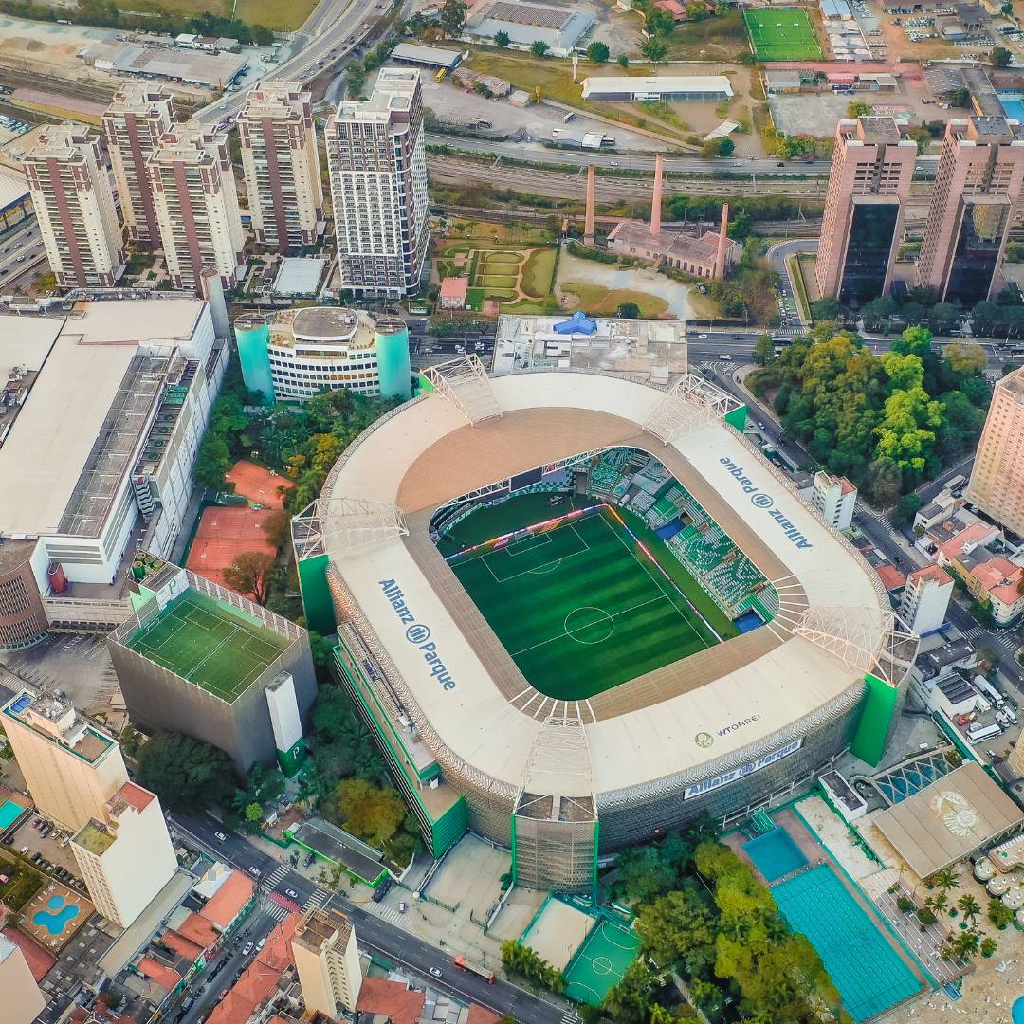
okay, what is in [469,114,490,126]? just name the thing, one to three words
vehicle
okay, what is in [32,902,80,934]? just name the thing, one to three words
swimming pool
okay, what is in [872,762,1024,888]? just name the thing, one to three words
building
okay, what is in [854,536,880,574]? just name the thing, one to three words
house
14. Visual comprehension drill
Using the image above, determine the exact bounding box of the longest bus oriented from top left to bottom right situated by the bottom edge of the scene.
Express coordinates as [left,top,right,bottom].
[448,945,501,985]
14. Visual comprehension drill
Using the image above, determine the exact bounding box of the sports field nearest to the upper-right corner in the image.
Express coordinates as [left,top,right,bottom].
[744,7,823,61]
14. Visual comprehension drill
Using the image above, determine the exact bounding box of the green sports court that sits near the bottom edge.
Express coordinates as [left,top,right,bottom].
[565,918,641,1005]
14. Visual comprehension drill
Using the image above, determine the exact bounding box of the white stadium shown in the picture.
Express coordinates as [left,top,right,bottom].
[289,353,919,892]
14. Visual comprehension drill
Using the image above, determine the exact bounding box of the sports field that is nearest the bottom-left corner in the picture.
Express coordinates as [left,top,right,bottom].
[118,589,294,704]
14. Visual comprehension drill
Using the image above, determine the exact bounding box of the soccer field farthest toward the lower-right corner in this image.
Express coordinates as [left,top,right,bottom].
[443,496,739,699]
